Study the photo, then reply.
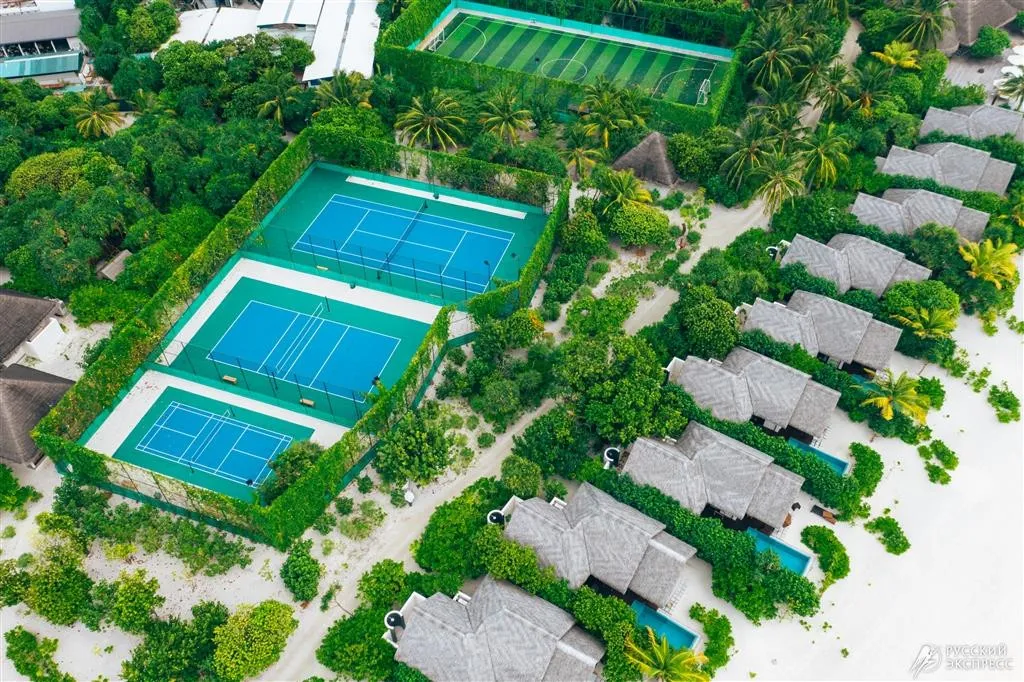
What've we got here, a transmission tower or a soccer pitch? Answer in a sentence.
There is a soccer pitch in the scene.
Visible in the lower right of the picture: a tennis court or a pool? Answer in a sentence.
The one visible in the lower right of the picture is a pool.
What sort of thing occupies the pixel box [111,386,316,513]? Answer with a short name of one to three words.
sports court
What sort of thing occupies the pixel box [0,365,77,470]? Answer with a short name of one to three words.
shed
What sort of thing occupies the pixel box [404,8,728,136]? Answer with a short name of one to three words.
soccer field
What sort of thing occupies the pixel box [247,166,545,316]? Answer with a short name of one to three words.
tennis court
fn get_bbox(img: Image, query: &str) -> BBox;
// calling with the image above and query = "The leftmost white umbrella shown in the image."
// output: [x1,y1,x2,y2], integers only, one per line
[402,492,416,510]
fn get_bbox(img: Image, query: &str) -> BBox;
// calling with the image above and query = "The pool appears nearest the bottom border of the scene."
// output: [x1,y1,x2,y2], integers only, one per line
[624,594,701,658]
